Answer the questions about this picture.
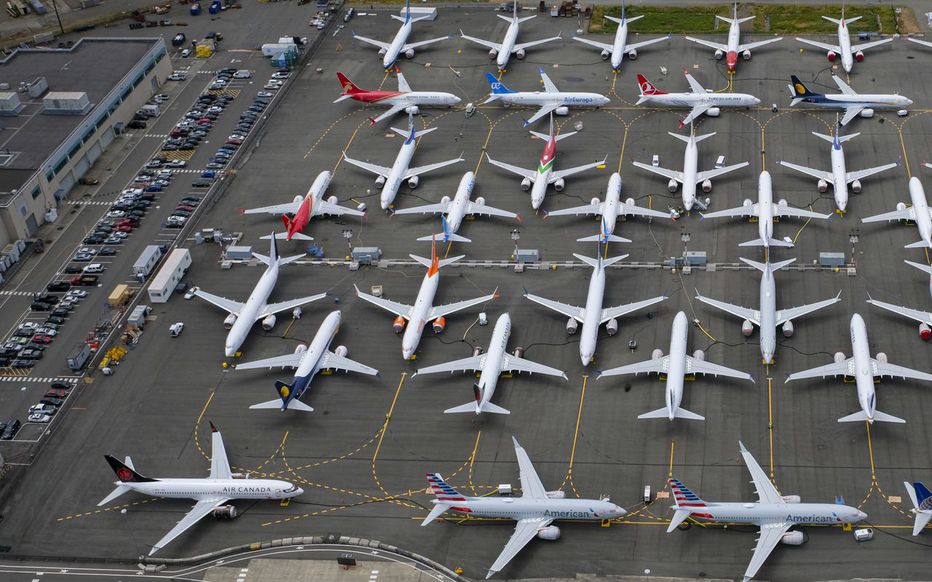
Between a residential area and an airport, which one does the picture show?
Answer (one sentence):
This looks like an airport.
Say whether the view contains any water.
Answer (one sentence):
No, water can't be seen anywhere here.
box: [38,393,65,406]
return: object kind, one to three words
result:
vehicle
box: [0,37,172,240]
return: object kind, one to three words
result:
building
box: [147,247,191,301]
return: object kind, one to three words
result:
trailer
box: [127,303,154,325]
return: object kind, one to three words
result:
truck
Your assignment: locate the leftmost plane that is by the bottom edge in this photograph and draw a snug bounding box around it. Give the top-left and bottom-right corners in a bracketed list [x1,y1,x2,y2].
[94,419,302,558]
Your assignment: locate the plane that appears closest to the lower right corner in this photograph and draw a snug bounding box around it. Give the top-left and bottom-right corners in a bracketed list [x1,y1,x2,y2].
[902,481,932,536]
